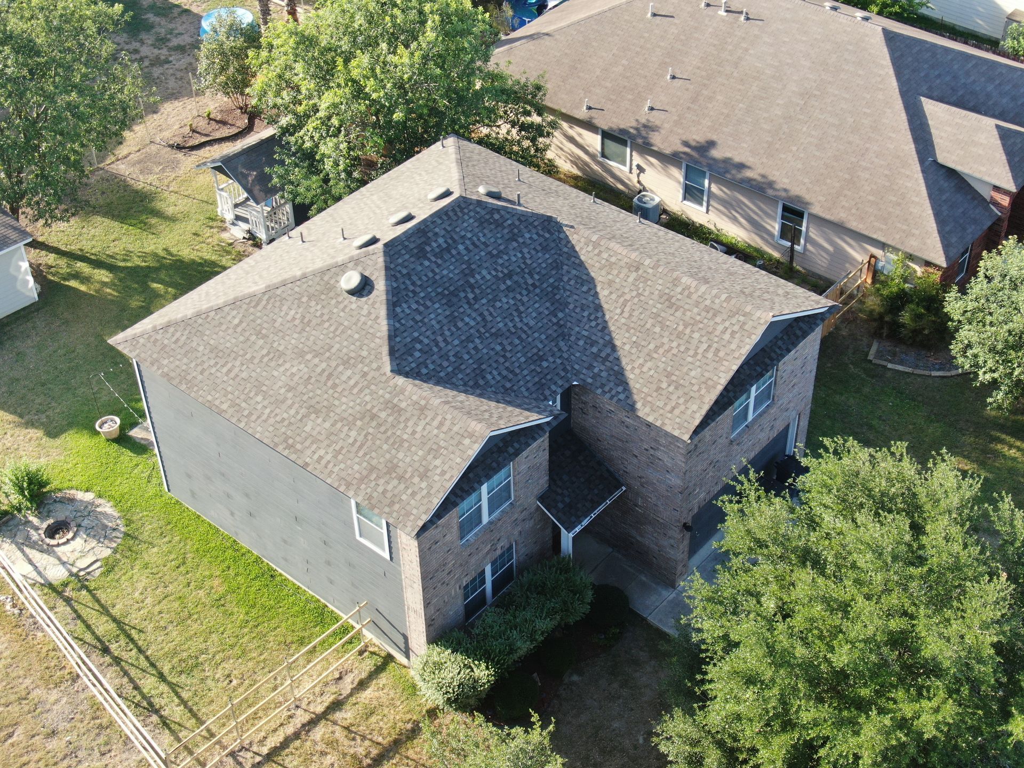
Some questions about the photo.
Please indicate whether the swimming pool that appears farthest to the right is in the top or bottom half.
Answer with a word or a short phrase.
top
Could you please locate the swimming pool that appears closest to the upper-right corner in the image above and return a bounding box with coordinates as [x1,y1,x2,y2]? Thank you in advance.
[496,0,567,34]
